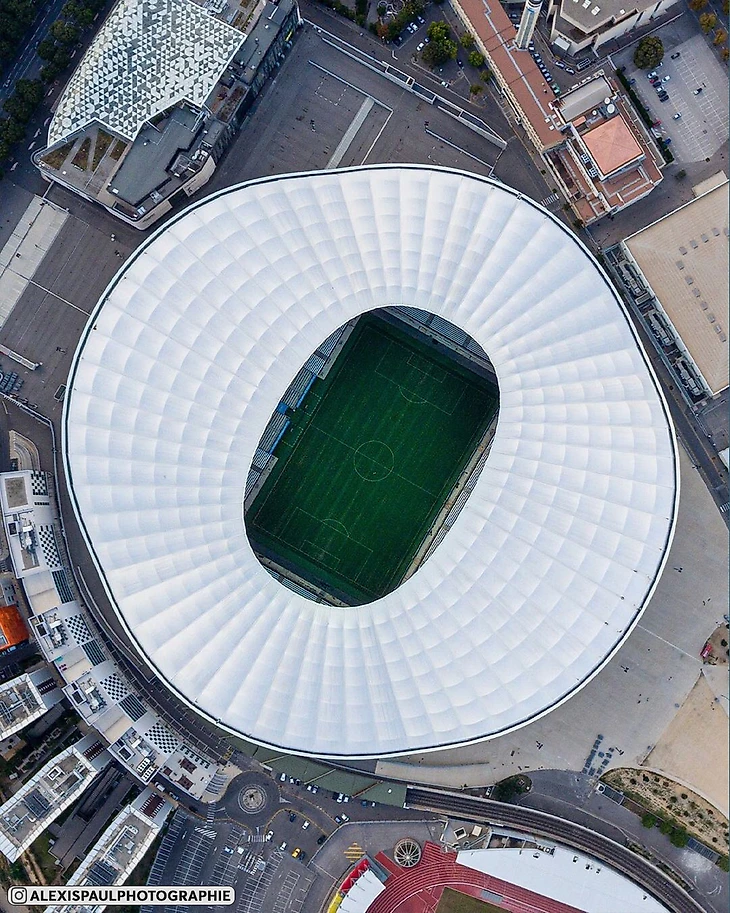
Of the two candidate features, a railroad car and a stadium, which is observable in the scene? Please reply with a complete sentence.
There is a stadium in the scene.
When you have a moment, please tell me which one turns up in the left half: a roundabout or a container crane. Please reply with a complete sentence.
It is a roundabout that can be seen in the left half.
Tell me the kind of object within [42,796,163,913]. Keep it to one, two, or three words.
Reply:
building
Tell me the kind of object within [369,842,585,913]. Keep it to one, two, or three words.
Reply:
running track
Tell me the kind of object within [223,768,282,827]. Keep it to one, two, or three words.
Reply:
roundabout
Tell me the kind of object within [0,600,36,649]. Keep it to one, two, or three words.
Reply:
building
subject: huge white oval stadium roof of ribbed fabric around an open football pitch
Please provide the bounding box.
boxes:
[62,164,679,760]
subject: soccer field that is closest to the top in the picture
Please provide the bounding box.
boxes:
[243,312,499,605]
